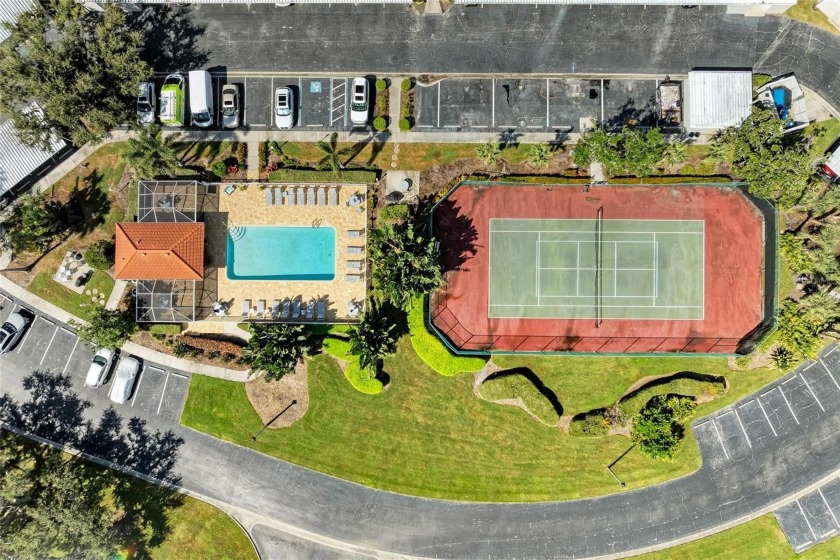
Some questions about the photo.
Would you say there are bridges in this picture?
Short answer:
No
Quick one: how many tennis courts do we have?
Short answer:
one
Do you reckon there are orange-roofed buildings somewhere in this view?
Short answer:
Yes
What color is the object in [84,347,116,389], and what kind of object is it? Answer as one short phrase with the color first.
white car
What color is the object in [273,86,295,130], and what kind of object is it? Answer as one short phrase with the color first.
white car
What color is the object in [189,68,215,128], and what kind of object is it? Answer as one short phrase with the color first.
white vehicle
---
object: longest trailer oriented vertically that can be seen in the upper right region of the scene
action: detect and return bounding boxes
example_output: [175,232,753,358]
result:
[659,75,682,125]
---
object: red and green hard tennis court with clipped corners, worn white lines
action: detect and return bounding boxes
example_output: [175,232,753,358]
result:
[433,184,765,352]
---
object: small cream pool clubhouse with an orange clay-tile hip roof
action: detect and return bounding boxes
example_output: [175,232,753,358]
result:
[113,221,208,280]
